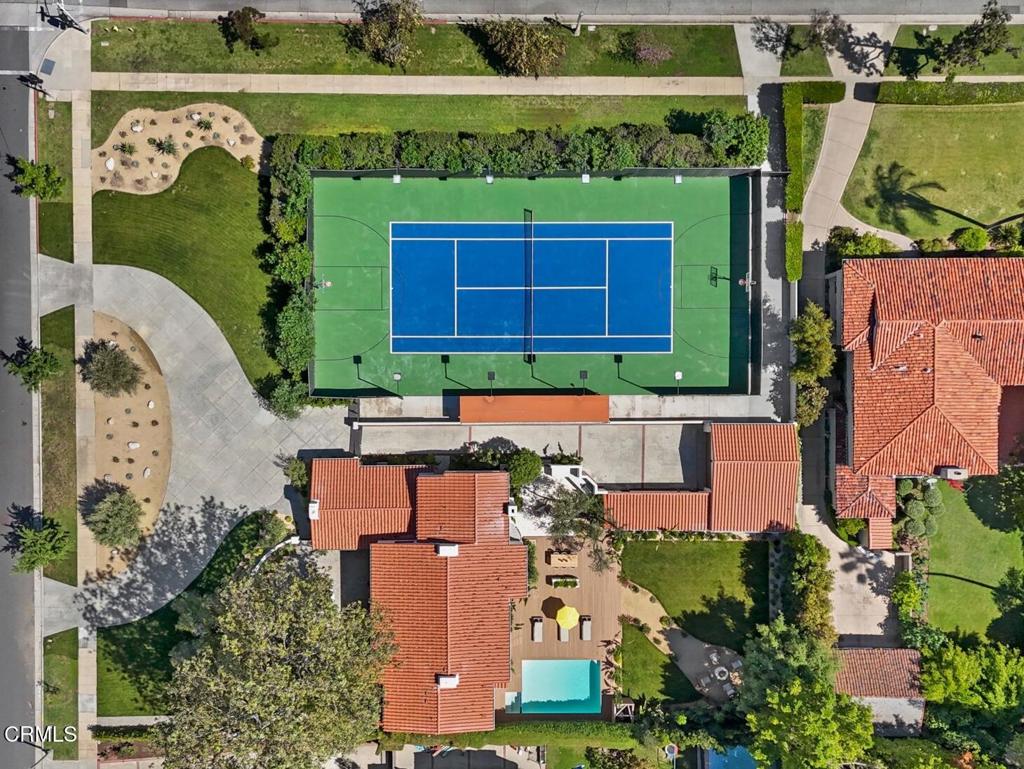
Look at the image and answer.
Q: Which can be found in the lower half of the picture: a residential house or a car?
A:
residential house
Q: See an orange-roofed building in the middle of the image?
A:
Yes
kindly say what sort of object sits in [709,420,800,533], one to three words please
building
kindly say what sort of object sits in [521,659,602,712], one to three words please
swimming pool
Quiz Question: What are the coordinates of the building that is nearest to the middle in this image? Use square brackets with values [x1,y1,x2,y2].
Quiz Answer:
[459,397,609,421]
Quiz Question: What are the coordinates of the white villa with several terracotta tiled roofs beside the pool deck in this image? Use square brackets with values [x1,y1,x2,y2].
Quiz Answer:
[308,457,528,737]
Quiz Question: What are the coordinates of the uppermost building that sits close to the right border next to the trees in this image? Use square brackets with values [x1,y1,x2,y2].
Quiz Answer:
[830,256,1024,550]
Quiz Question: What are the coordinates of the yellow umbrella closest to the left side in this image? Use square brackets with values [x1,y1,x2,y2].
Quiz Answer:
[555,604,579,628]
